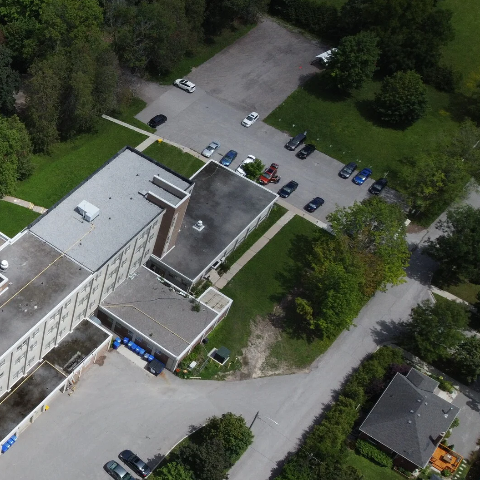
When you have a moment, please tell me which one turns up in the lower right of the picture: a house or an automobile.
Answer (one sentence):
What appears in the lower right of the picture is a house.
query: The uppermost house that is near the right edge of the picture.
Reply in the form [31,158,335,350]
[354,370,462,477]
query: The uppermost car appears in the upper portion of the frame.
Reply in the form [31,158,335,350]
[172,78,197,93]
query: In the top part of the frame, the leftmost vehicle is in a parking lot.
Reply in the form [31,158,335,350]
[146,109,170,129]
